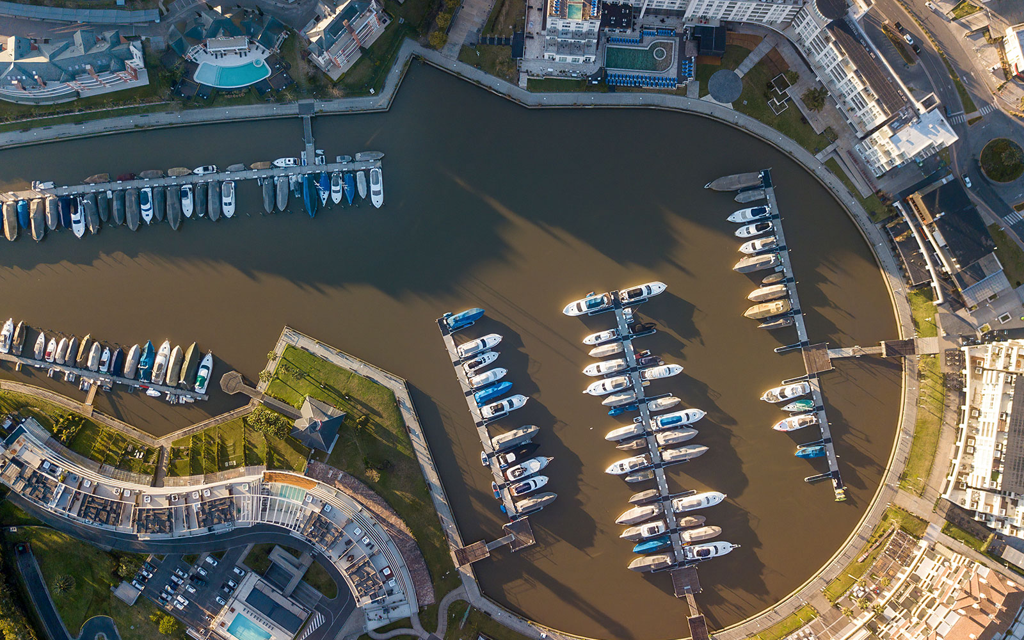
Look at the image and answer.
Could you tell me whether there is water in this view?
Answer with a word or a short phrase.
Yes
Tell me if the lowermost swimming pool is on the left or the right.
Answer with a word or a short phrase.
left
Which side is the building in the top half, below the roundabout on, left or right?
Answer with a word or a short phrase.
right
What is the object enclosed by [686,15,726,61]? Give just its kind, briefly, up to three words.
building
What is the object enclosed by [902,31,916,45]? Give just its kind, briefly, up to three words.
car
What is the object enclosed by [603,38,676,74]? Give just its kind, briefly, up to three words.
swimming pool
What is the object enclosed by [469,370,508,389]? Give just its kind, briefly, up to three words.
boat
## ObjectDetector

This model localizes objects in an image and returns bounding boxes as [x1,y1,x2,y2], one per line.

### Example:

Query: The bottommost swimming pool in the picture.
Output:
[221,611,275,640]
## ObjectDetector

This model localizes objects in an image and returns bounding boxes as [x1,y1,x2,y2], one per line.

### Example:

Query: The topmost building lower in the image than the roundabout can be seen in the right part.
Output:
[886,178,1011,308]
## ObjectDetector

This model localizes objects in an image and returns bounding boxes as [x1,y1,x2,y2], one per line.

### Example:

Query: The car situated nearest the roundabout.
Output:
[962,173,974,188]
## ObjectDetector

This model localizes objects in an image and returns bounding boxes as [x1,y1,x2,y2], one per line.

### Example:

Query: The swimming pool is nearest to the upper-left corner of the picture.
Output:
[193,56,274,90]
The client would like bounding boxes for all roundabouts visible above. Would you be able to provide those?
[980,138,1024,181]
